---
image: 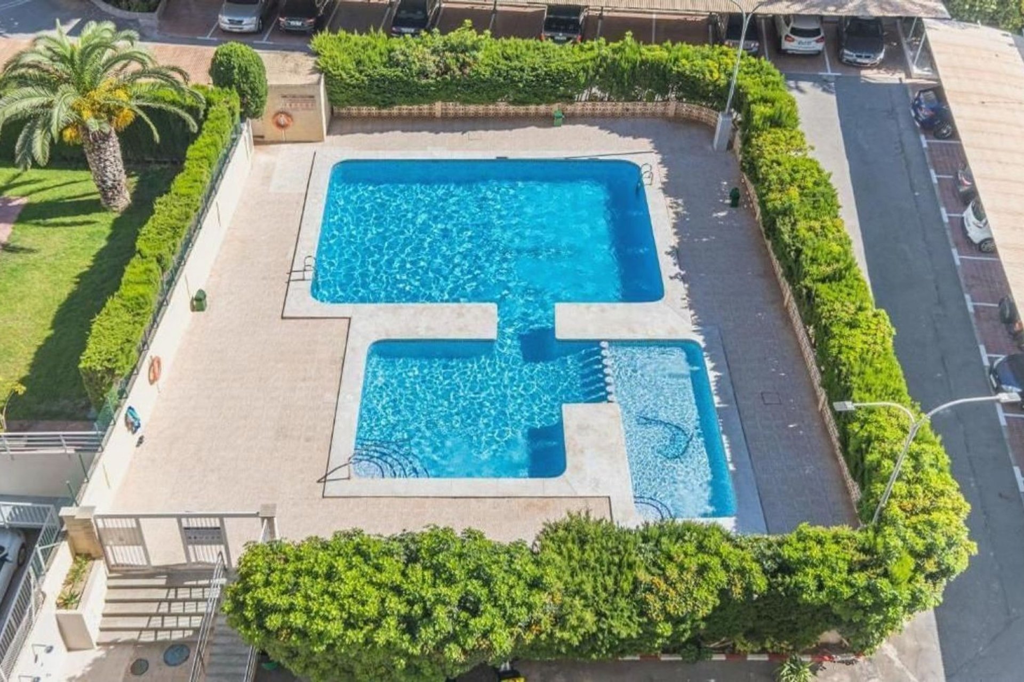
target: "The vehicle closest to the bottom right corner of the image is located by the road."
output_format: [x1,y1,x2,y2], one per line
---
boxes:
[992,342,1024,409]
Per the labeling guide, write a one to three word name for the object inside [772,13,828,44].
car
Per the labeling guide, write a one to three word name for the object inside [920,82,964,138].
car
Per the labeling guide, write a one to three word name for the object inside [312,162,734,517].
swimming pool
